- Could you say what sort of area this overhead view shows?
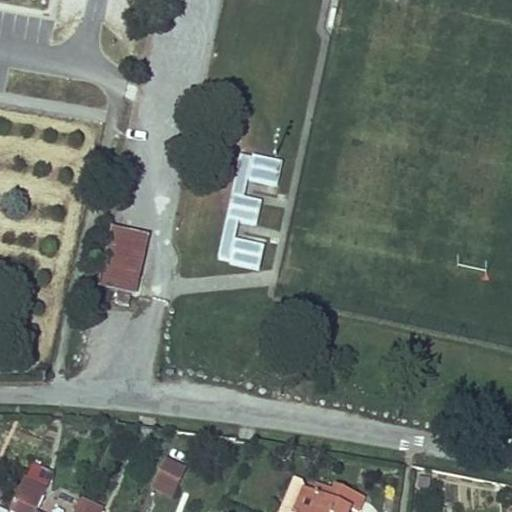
sports ground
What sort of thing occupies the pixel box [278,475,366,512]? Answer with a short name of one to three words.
house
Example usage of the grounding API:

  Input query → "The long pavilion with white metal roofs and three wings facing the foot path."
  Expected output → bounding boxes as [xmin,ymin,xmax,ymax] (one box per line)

[218,152,283,272]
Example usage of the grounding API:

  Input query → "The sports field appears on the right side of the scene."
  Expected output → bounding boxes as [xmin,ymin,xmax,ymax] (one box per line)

[277,0,512,348]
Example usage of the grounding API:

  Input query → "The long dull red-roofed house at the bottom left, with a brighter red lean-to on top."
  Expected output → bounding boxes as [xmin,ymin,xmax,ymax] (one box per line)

[10,458,54,512]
